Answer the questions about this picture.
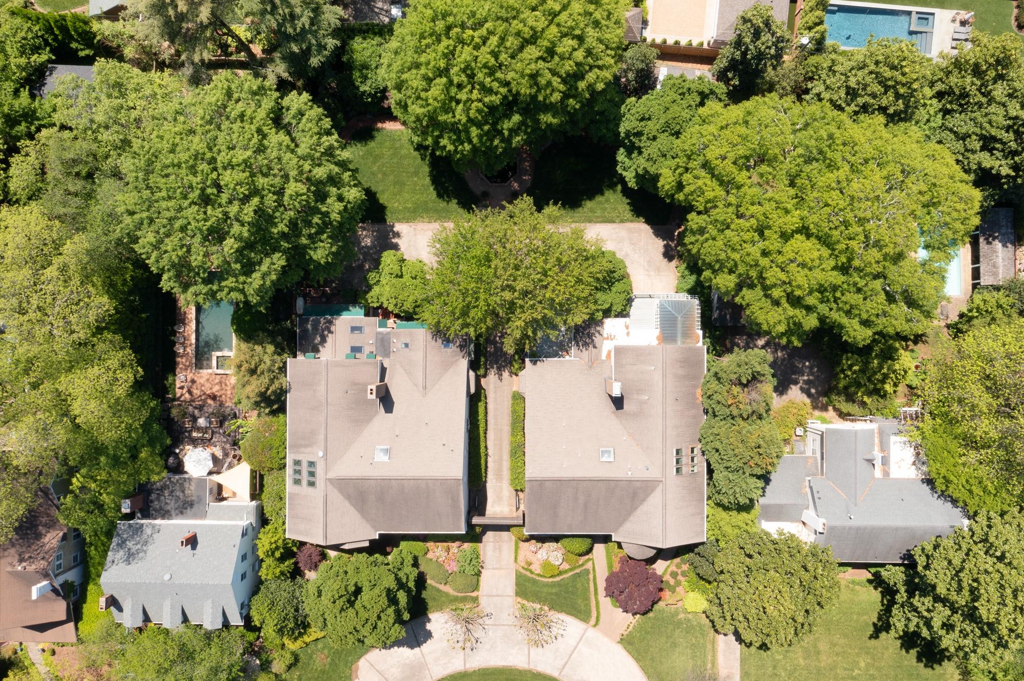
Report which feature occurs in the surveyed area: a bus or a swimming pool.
swimming pool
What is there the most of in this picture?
trees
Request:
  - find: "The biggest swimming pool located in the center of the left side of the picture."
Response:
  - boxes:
[191,268,237,373]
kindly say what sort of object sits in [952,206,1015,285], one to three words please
shed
